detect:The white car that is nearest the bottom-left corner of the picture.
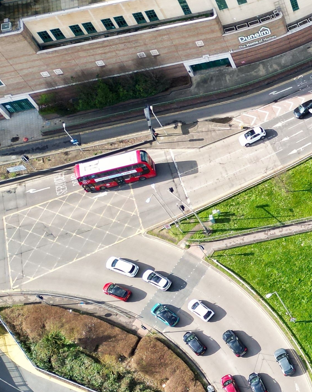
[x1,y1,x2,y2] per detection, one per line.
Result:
[106,258,139,278]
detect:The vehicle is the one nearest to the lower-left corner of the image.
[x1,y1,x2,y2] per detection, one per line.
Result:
[103,284,131,303]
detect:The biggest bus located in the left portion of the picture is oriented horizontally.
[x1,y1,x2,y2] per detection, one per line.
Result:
[73,147,157,190]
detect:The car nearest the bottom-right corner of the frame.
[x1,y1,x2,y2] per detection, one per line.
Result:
[275,350,296,378]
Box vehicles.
[103,284,131,303]
[187,300,216,324]
[73,147,157,190]
[222,331,249,359]
[151,305,180,327]
[142,270,173,292]
[184,333,208,357]
[275,350,296,378]
[221,377,241,392]
[106,258,139,278]
[246,372,269,392]
[293,98,312,120]
[239,125,267,147]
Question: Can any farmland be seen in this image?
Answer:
No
